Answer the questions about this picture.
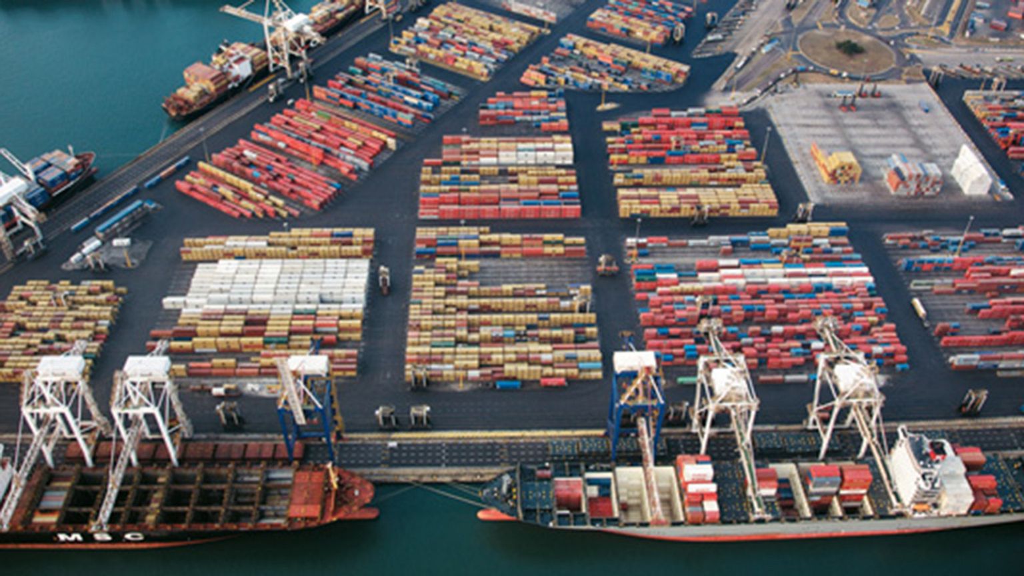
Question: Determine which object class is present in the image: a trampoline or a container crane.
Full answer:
The one in the frame is a container crane.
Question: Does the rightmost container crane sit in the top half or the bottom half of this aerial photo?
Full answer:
You can find the rightmost container crane in the bottom half.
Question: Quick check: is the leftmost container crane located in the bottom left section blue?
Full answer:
No, the color of the leftmost container crane located in the bottom left section is white.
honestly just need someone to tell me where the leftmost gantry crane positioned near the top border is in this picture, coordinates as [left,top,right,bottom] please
[226,0,332,86]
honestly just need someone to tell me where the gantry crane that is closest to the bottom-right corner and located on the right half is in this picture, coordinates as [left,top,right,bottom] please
[785,312,896,485]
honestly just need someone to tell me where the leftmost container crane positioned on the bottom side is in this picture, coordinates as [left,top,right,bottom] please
[0,339,117,500]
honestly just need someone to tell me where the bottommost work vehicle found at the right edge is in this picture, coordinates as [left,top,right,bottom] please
[968,386,989,418]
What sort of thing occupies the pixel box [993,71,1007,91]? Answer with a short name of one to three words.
work vehicle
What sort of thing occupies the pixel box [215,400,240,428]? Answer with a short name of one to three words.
work vehicle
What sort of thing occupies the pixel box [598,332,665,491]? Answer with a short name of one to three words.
container crane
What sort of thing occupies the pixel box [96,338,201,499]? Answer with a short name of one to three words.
container crane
